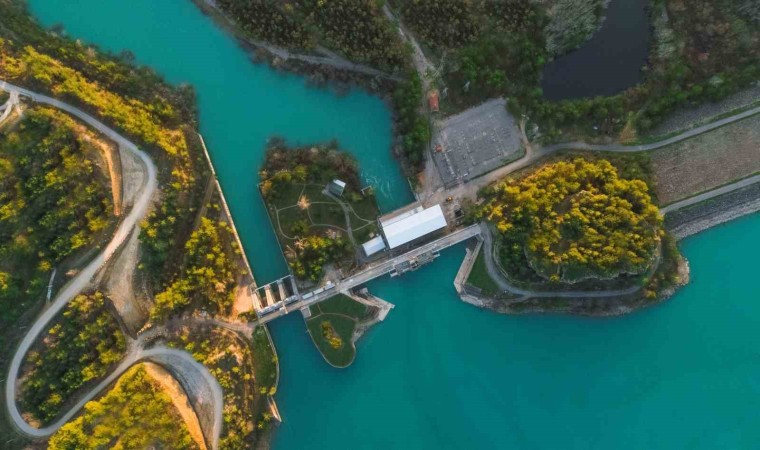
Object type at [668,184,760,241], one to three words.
dam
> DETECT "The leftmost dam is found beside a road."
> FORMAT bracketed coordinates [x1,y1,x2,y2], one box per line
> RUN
[247,224,483,326]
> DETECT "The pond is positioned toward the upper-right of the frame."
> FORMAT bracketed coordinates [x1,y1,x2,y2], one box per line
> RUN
[541,0,652,100]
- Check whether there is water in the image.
Yes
